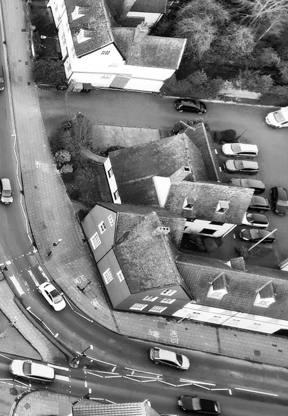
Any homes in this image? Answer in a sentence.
Yes, the frame does contain a home.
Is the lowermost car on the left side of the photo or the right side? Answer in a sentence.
You can find the lowermost car on the right side of the picture.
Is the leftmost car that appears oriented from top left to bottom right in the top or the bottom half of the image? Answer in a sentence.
It is in the bottom half that the leftmost car that appears oriented from top left to bottom right appears.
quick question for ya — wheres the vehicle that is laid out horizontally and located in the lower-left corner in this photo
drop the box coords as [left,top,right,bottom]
[10,358,56,382]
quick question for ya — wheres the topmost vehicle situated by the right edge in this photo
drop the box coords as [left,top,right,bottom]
[264,110,288,128]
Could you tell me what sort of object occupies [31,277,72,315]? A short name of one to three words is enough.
car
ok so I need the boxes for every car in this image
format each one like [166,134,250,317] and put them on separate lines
[148,345,192,372]
[248,196,277,213]
[10,358,56,382]
[0,174,17,208]
[31,277,72,315]
[176,392,225,416]
[230,175,270,194]
[219,141,262,159]
[236,226,281,245]
[243,211,274,229]
[264,110,288,128]
[269,182,288,218]
[224,157,262,176]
